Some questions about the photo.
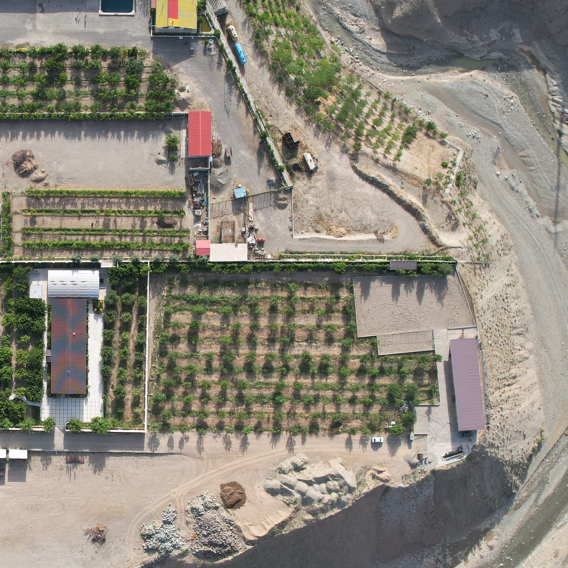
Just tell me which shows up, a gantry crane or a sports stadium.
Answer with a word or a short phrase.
sports stadium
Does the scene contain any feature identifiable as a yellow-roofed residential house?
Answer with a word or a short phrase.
Yes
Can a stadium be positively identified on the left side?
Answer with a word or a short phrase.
No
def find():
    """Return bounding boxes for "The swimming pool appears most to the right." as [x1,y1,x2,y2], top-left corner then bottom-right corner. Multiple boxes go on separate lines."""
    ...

[199,12,212,33]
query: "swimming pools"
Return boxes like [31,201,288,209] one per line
[99,0,135,16]
[199,12,212,33]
